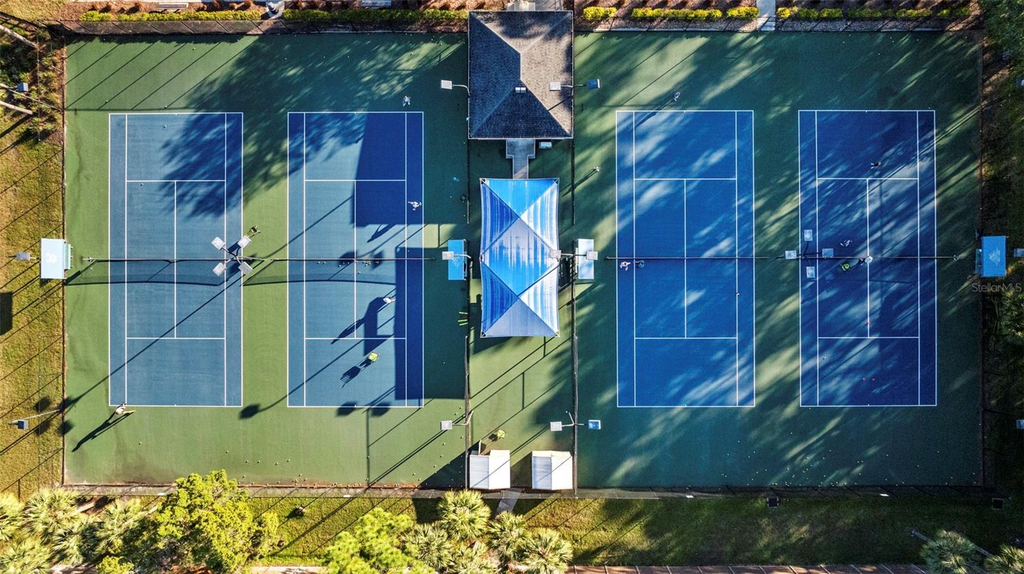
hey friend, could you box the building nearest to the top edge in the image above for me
[467,8,575,142]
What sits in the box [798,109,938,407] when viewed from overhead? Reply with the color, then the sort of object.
blue tennis court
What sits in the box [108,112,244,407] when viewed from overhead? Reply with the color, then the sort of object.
blue tennis court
